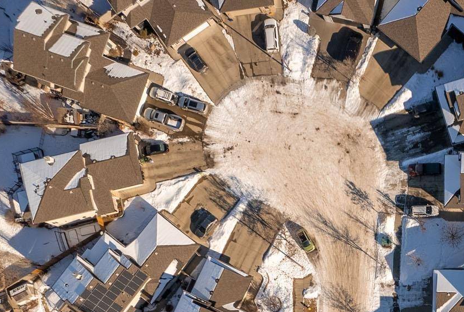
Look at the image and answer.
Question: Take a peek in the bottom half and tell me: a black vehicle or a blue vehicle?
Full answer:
The feature located in the bottom half is a black vehicle.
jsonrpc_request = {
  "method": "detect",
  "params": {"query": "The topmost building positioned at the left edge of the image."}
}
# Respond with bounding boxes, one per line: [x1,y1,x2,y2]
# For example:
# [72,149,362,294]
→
[10,1,153,124]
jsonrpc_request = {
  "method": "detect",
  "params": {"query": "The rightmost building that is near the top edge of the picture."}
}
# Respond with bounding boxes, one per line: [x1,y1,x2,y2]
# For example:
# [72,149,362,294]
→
[372,0,464,66]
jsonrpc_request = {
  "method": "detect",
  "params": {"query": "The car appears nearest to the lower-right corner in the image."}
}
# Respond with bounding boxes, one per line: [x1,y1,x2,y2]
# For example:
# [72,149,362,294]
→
[410,202,439,217]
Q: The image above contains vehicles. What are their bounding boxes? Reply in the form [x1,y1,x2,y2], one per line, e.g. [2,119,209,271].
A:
[410,202,439,217]
[142,138,169,155]
[343,28,361,60]
[183,44,209,73]
[408,160,441,177]
[260,16,279,53]
[177,94,207,114]
[189,209,217,234]
[148,85,178,108]
[141,104,186,133]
